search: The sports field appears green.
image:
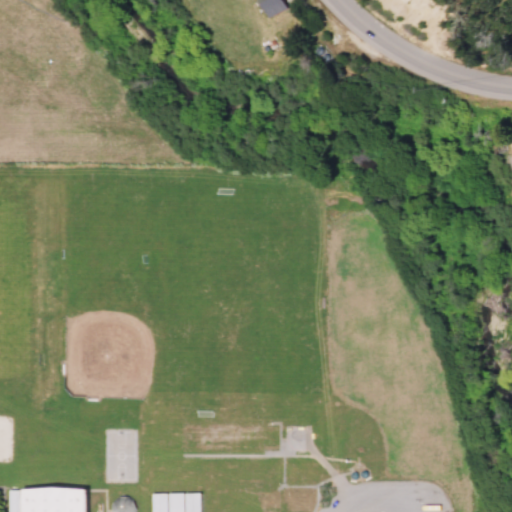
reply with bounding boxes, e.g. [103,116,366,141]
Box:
[65,178,328,401]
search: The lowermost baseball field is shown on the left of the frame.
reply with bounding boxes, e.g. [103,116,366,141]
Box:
[65,310,156,400]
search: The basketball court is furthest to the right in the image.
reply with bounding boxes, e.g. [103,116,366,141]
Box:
[106,429,138,482]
